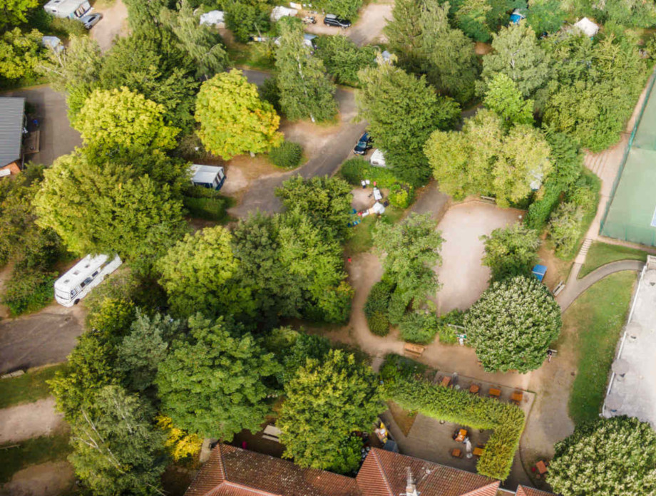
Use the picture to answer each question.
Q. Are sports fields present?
Yes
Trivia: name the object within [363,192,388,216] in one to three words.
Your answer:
tent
